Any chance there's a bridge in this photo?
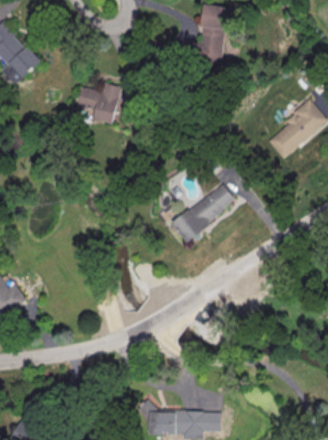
Yes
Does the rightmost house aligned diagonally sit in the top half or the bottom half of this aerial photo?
top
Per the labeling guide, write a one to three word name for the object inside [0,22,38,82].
house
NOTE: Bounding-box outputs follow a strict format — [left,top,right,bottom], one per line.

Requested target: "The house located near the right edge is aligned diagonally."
[270,100,328,158]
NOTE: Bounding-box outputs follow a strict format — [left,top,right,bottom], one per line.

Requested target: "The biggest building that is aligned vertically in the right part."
[201,4,225,60]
